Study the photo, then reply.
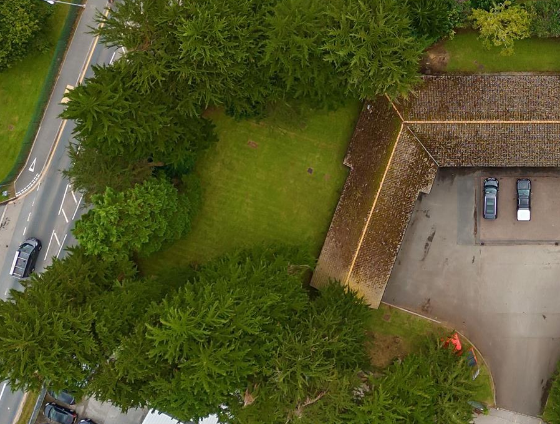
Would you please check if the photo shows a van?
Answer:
Yes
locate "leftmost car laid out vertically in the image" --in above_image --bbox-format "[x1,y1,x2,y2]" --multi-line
[482,177,499,219]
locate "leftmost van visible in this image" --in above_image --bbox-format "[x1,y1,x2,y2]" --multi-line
[6,237,44,280]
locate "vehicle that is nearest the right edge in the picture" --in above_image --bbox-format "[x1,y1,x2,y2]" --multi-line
[514,178,532,220]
